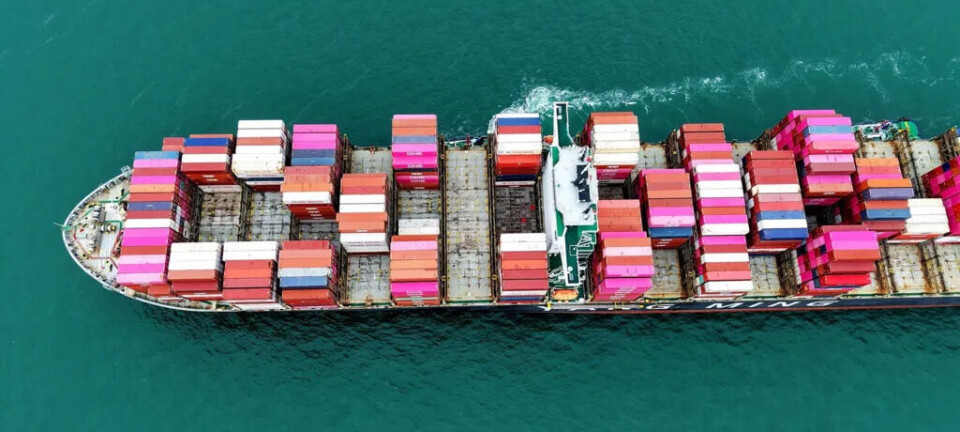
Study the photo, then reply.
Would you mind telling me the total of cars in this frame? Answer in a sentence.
I count no cars.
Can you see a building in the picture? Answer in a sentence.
No, the picture doesn't show any building.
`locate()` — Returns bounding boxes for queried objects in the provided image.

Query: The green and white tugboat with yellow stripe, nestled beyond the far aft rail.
[851,119,921,140]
